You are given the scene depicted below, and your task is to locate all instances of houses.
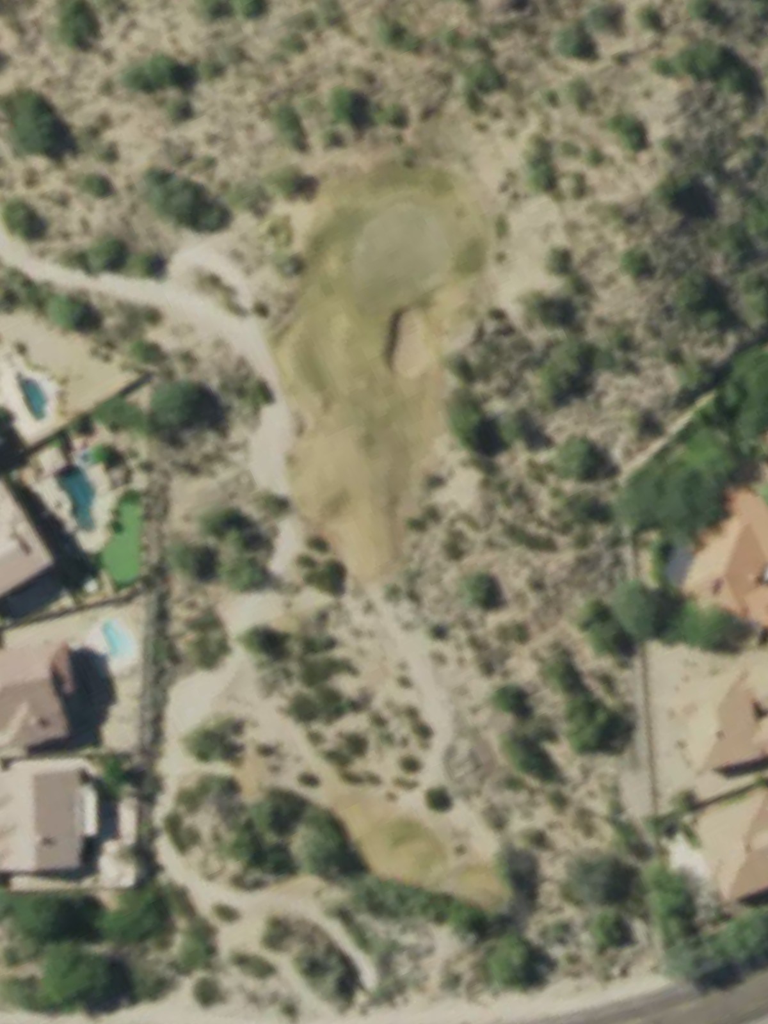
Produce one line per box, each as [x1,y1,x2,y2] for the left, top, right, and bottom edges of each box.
[0,642,75,756]
[696,667,768,774]
[0,771,84,874]
[0,483,51,591]
[704,793,768,905]
[685,489,768,624]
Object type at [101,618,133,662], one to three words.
swimming pool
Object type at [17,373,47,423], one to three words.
swimming pool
